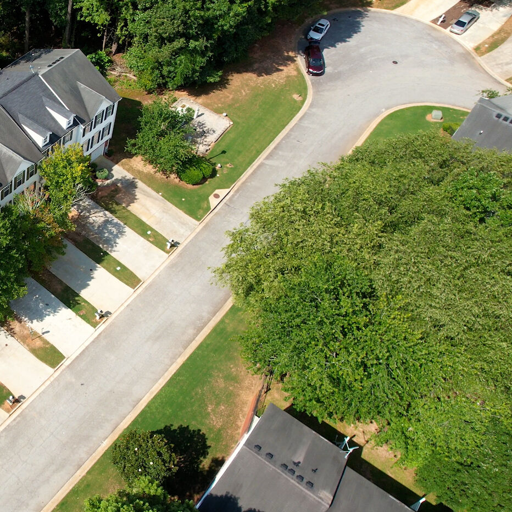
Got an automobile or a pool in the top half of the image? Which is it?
automobile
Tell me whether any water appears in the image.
No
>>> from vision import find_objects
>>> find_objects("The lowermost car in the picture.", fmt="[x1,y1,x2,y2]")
[302,37,326,75]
